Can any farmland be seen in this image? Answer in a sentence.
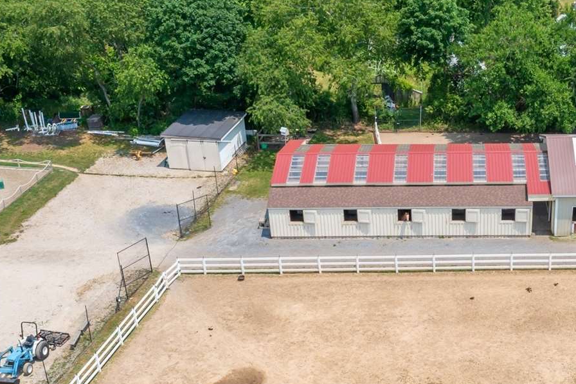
Yes, some farmland is visible.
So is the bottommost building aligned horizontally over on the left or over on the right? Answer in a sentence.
You can find the bottommost building aligned horizontally on the right side of the picture.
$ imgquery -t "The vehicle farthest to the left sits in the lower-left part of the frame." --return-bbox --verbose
[0,322,44,384]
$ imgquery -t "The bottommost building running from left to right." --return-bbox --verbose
[265,142,552,237]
